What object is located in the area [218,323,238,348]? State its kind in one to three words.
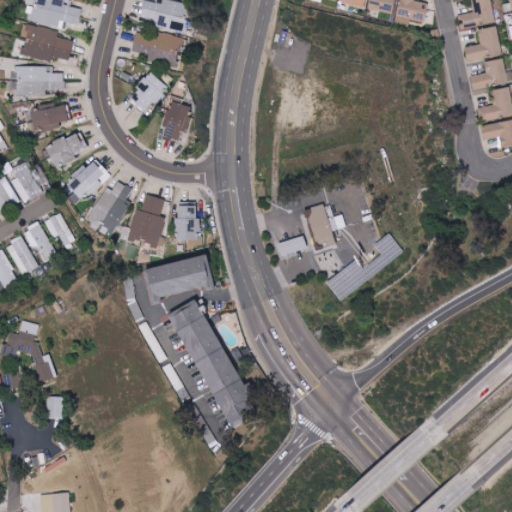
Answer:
swimming pool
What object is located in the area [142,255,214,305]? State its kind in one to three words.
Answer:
building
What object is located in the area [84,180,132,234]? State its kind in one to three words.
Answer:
house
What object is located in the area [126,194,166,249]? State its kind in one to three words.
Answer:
house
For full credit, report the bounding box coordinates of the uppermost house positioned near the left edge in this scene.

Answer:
[25,0,80,30]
